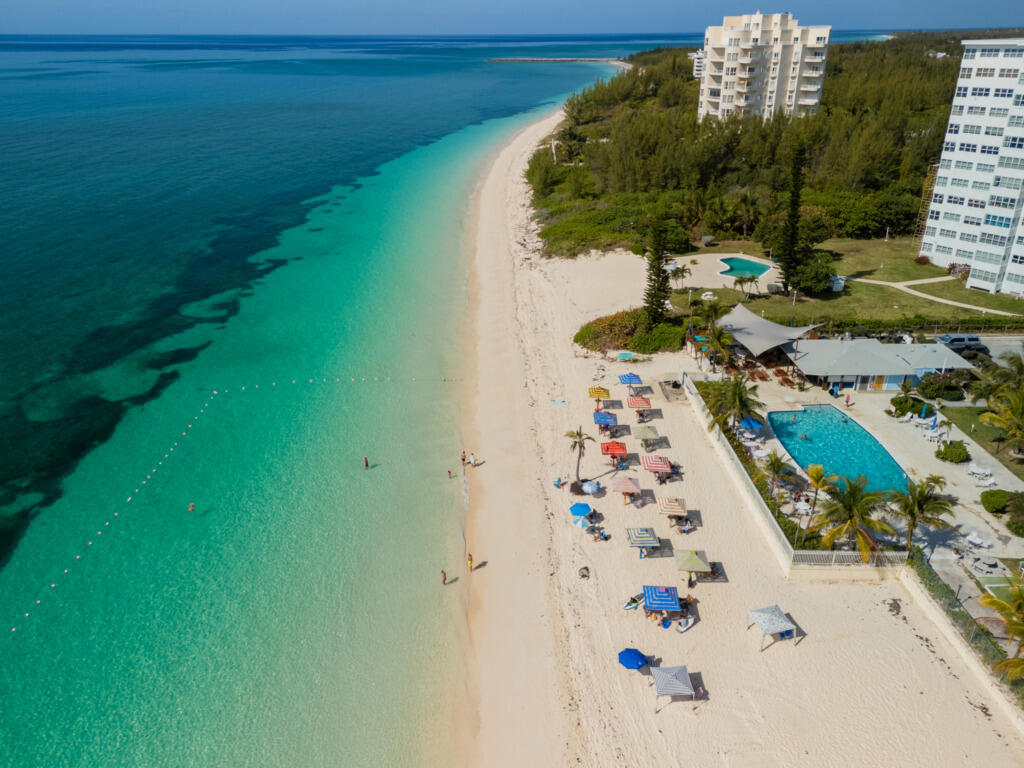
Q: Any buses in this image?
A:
No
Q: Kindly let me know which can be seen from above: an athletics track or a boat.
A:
boat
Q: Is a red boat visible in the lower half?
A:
No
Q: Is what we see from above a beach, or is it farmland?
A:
beach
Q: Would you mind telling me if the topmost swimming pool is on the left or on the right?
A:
right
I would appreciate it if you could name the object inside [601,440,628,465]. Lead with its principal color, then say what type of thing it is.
red umbrella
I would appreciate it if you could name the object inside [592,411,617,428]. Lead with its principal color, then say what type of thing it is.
blue umbrella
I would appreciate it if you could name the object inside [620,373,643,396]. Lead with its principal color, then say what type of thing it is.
blue umbrella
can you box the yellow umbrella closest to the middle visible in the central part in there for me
[587,386,609,410]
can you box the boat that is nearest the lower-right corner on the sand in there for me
[674,608,698,632]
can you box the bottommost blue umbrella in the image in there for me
[618,646,649,687]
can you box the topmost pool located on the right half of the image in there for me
[717,255,773,277]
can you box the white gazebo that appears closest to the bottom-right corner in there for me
[745,603,802,653]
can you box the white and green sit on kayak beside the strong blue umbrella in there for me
[624,592,643,613]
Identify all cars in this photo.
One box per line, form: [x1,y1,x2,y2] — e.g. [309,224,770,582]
[951,339,995,355]
[935,330,983,348]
